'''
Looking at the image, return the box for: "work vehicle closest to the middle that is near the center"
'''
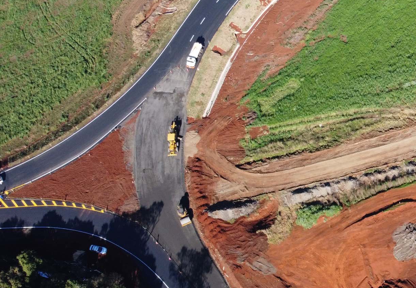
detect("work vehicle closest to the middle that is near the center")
[166,122,180,157]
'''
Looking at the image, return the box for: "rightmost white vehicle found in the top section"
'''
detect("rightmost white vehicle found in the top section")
[184,41,204,72]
